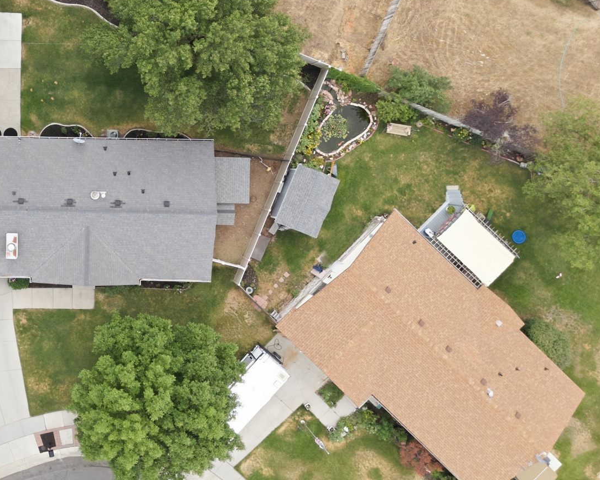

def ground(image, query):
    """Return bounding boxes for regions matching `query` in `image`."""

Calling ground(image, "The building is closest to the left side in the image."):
[0,134,218,287]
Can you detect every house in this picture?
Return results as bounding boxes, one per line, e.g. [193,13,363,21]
[268,207,587,480]
[0,134,218,287]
